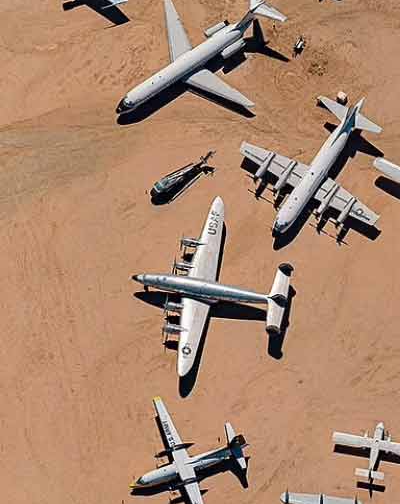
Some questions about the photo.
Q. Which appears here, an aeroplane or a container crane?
aeroplane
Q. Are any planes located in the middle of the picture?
Yes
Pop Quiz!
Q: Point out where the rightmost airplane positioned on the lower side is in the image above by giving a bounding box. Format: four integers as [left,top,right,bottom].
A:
[332,424,400,479]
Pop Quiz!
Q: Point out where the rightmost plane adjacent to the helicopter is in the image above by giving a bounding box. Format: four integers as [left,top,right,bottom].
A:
[238,95,382,231]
